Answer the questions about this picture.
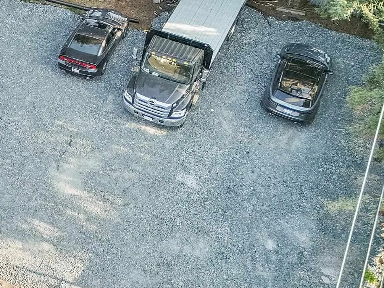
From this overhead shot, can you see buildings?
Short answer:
No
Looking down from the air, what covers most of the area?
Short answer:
paved ground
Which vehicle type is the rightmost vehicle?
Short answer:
automobile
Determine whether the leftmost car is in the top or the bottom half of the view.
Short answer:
top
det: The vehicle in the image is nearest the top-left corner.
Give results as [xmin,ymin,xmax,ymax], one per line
[56,9,131,83]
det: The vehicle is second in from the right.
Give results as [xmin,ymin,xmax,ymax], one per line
[125,0,246,127]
